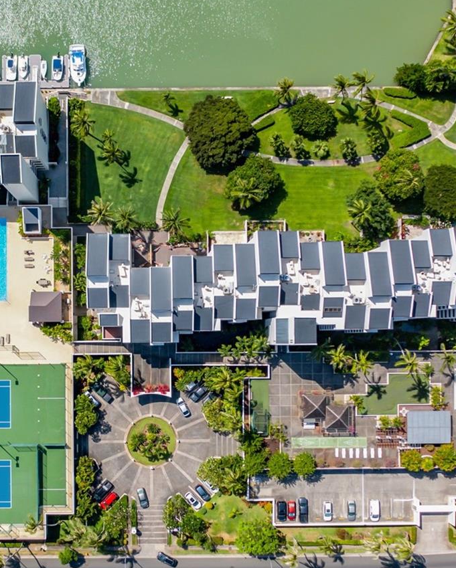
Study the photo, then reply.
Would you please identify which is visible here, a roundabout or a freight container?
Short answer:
roundabout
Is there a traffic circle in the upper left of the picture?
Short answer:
No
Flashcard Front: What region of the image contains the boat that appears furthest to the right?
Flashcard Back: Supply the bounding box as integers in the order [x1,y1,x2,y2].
[70,43,87,89]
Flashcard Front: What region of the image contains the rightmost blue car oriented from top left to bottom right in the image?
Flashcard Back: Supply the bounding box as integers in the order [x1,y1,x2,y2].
[193,483,211,503]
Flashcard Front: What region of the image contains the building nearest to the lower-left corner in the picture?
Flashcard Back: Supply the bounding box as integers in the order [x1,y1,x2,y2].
[29,292,62,322]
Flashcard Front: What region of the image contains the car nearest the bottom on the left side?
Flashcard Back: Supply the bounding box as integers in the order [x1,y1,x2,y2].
[156,551,179,568]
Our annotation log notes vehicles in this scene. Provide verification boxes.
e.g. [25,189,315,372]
[137,487,149,508]
[83,391,101,409]
[193,483,211,503]
[96,481,115,498]
[176,397,192,417]
[369,500,381,522]
[277,500,288,522]
[102,492,118,508]
[156,551,179,568]
[288,500,297,521]
[298,498,309,523]
[187,385,208,404]
[347,500,357,521]
[181,379,200,395]
[184,491,202,510]
[323,501,333,521]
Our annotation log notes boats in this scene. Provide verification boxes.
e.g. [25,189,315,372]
[6,52,17,82]
[19,52,28,78]
[52,53,64,82]
[70,43,87,89]
[41,61,47,78]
